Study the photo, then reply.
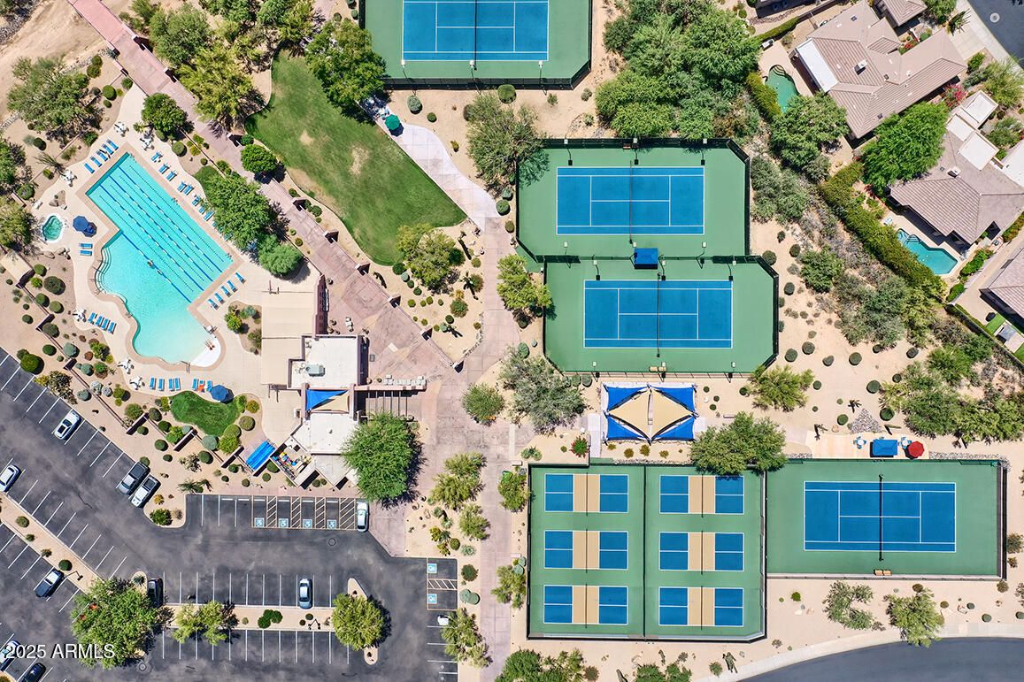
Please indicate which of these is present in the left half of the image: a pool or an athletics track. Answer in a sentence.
What appears in the left half of the image is a pool.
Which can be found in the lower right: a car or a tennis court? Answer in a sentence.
You can see a tennis court in the lower right.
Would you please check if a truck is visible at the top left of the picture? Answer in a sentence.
No, no truck appears at the top left of the picture.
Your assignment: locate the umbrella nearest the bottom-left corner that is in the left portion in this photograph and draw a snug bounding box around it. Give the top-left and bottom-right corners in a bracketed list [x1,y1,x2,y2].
[211,384,228,401]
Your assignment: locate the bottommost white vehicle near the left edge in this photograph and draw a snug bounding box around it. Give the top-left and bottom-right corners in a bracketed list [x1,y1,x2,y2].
[0,639,20,669]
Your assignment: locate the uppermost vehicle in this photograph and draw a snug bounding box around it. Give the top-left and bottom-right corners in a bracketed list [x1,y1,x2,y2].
[53,411,81,440]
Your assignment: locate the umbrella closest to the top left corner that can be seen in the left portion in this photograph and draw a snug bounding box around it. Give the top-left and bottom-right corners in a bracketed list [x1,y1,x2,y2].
[73,216,89,231]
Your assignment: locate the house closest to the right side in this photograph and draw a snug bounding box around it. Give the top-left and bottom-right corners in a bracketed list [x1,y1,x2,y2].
[981,250,1024,329]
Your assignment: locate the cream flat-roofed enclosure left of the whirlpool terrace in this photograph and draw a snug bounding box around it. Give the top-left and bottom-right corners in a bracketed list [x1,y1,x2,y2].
[0,251,38,286]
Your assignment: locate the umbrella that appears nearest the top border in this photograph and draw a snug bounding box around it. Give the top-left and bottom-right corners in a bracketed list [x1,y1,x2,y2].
[385,116,400,130]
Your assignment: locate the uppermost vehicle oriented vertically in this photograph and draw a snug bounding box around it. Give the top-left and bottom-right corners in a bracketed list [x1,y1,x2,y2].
[355,500,369,532]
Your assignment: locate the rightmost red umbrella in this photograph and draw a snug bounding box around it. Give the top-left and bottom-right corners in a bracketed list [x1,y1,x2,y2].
[906,441,923,457]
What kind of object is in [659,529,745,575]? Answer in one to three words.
sports court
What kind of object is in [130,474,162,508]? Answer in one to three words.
truck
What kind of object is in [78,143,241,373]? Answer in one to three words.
swimming pool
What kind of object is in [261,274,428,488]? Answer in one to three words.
building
